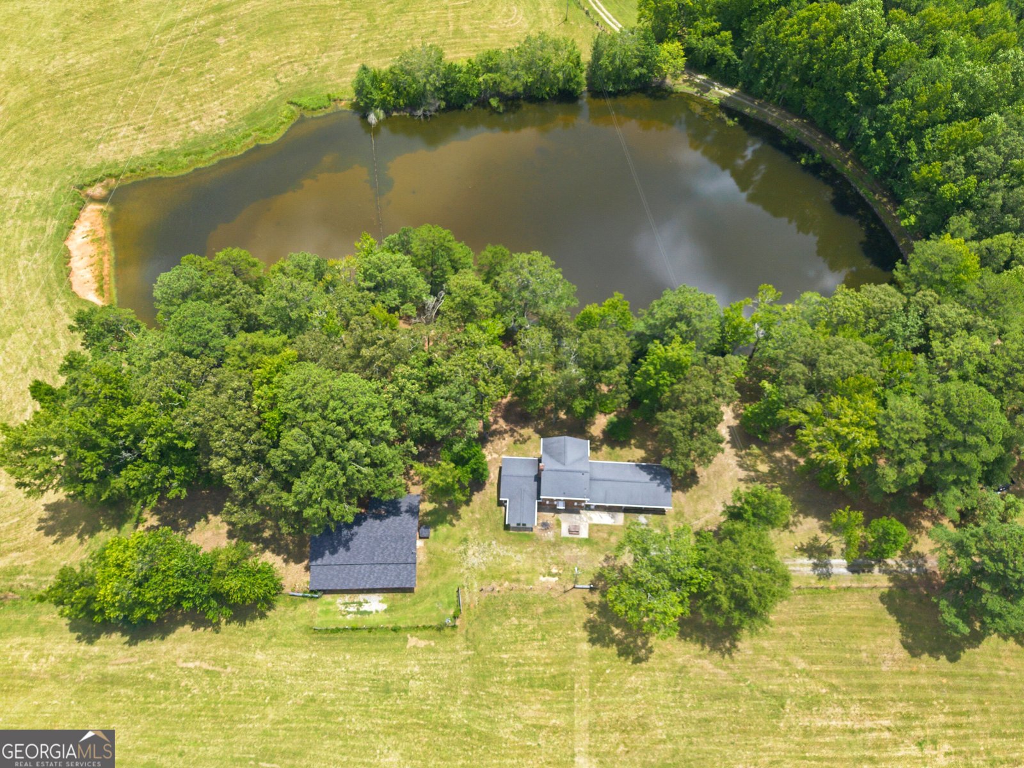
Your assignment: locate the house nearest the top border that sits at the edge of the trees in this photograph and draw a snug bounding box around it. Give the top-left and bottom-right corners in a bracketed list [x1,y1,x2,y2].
[499,436,673,531]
